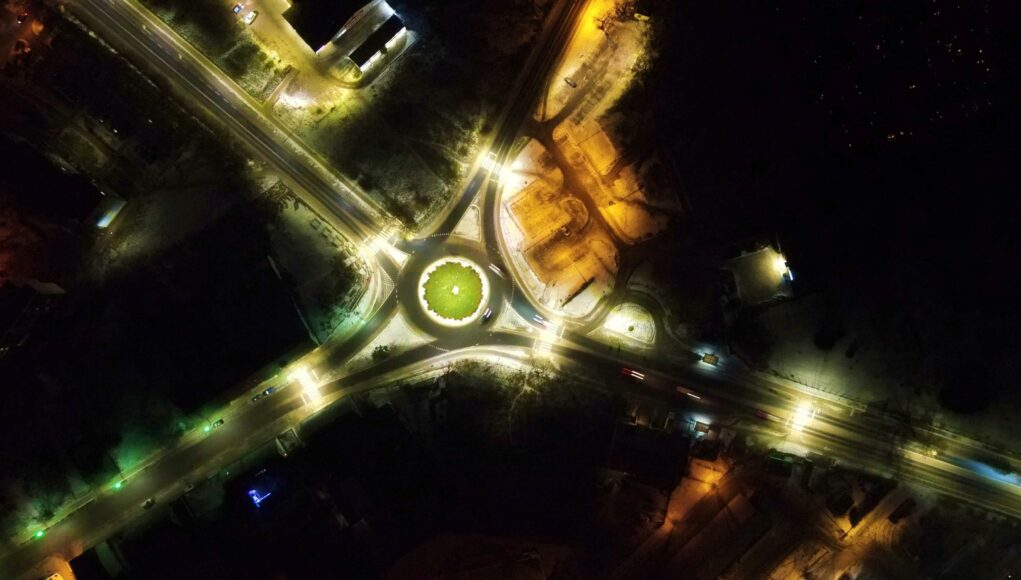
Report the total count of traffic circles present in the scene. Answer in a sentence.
My tally gives 1 traffic circle in this photo.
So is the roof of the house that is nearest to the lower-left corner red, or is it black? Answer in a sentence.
From above, the roof of the house that is nearest to the lower-left corner appears black.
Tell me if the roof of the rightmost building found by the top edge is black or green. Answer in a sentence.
In this view, the roof of the rightmost building found by the top edge is black.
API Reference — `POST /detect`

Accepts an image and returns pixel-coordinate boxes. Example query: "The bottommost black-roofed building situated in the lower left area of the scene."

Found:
[68,537,131,580]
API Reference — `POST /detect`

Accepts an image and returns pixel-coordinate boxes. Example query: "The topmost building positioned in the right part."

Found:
[785,252,838,302]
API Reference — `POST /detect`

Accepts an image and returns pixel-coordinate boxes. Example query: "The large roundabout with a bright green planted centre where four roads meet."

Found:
[301,164,559,404]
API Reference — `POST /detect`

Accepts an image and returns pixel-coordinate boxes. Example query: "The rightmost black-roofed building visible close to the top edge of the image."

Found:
[281,0,382,57]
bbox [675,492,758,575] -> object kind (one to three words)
house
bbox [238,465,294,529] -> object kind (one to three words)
house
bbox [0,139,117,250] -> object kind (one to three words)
warehouse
